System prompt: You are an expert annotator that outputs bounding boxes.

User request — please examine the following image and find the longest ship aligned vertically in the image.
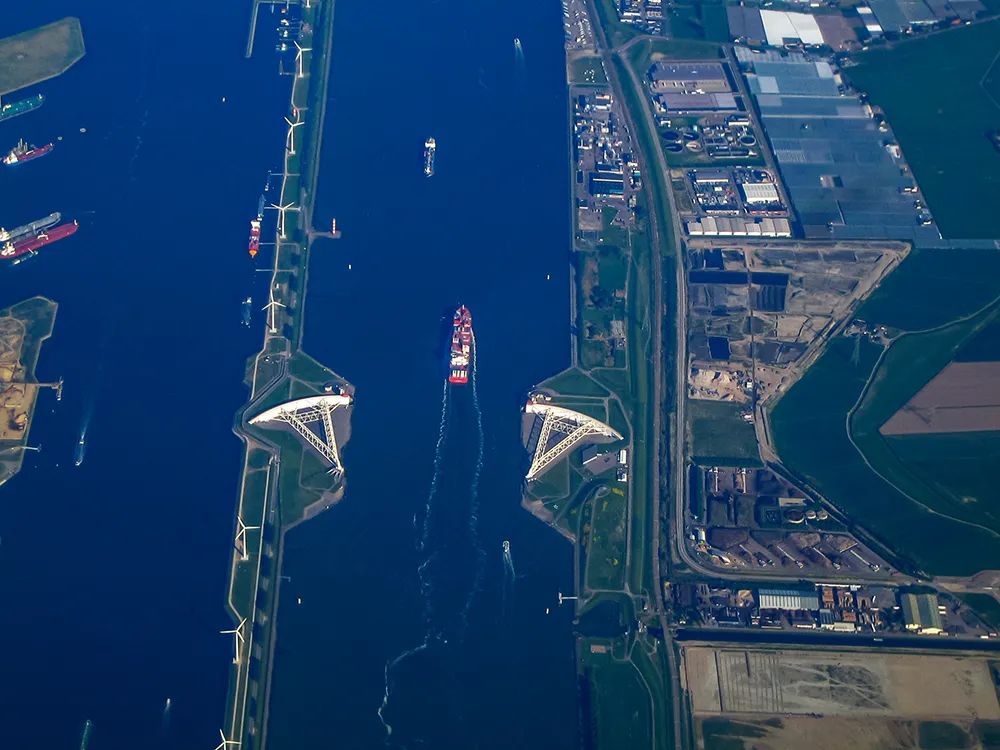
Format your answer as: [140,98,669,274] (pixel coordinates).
[449,307,471,387]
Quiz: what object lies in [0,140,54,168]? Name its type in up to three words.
ship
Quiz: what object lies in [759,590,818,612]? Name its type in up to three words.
building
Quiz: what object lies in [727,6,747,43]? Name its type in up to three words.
greenhouse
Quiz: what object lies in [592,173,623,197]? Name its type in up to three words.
building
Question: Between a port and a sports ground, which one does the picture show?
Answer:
port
